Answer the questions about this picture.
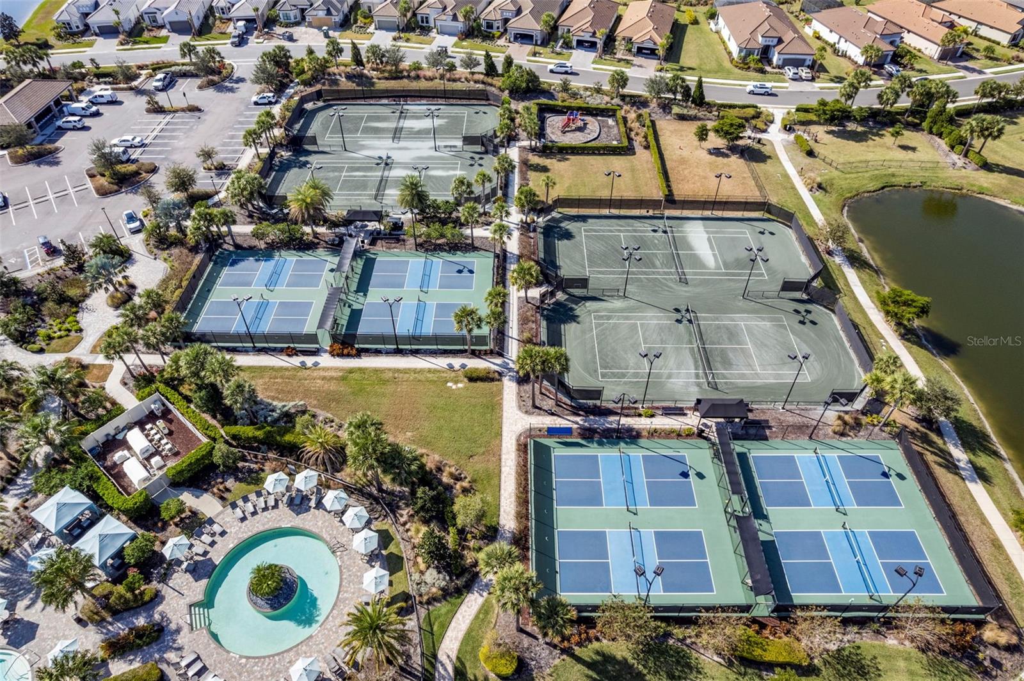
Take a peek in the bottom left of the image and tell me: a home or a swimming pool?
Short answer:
swimming pool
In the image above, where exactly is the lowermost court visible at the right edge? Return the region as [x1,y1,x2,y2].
[733,518,983,618]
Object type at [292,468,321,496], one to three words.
umbrella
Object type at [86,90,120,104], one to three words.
vehicle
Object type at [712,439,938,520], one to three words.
sports court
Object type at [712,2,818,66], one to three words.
house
